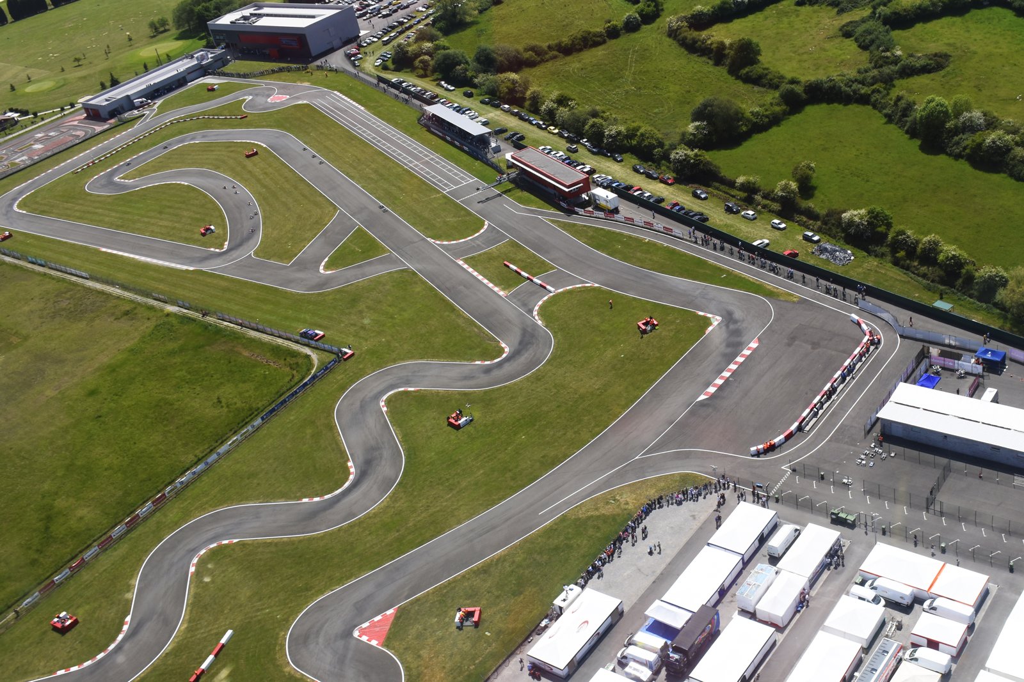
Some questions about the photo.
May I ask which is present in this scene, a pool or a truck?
truck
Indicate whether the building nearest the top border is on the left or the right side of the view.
left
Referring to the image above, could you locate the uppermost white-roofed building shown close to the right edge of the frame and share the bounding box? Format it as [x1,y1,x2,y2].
[877,383,1024,465]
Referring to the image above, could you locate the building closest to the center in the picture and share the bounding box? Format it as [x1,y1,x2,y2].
[503,147,592,210]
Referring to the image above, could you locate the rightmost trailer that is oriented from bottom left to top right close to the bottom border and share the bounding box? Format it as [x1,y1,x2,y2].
[855,623,906,682]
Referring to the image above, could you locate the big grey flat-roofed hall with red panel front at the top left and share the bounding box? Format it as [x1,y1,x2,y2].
[207,3,355,56]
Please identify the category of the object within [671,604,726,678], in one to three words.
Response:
truck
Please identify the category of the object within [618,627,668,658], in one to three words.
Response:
van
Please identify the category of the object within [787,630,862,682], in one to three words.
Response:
tent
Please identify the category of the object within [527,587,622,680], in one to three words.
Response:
tent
